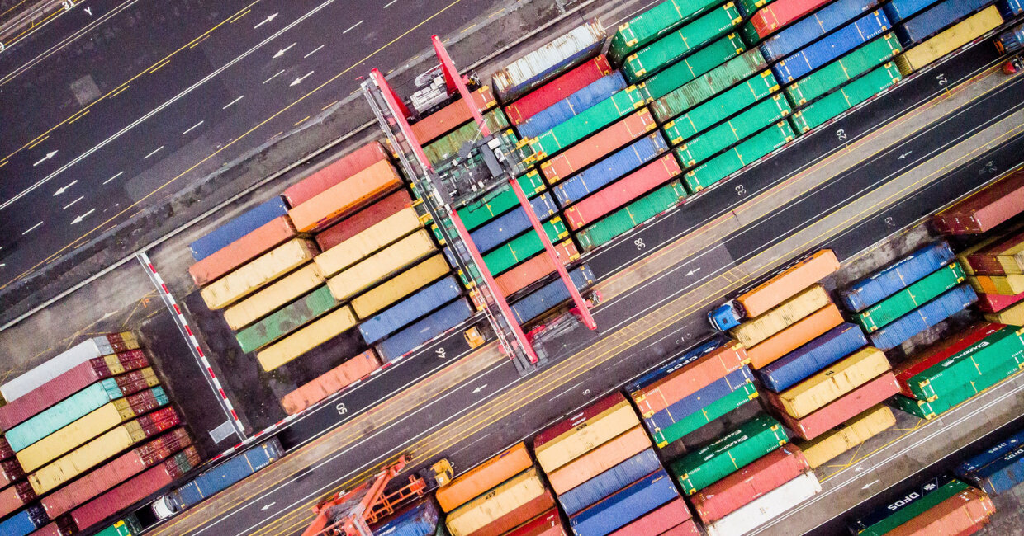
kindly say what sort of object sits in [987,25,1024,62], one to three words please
truck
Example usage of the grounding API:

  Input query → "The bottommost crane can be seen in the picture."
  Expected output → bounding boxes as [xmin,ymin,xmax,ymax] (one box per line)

[292,454,432,536]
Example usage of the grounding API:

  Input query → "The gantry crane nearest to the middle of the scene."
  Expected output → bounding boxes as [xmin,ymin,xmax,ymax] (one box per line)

[346,34,604,381]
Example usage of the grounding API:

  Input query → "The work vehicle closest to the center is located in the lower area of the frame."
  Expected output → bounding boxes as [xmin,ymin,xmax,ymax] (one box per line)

[454,318,496,353]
